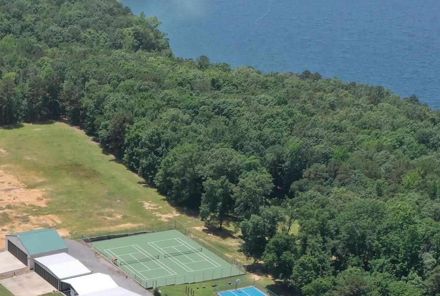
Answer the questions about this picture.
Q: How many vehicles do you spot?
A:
0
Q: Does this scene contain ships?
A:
No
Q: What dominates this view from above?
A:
trees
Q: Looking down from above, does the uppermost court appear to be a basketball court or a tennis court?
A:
tennis court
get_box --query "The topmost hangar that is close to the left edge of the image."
[5,229,70,270]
